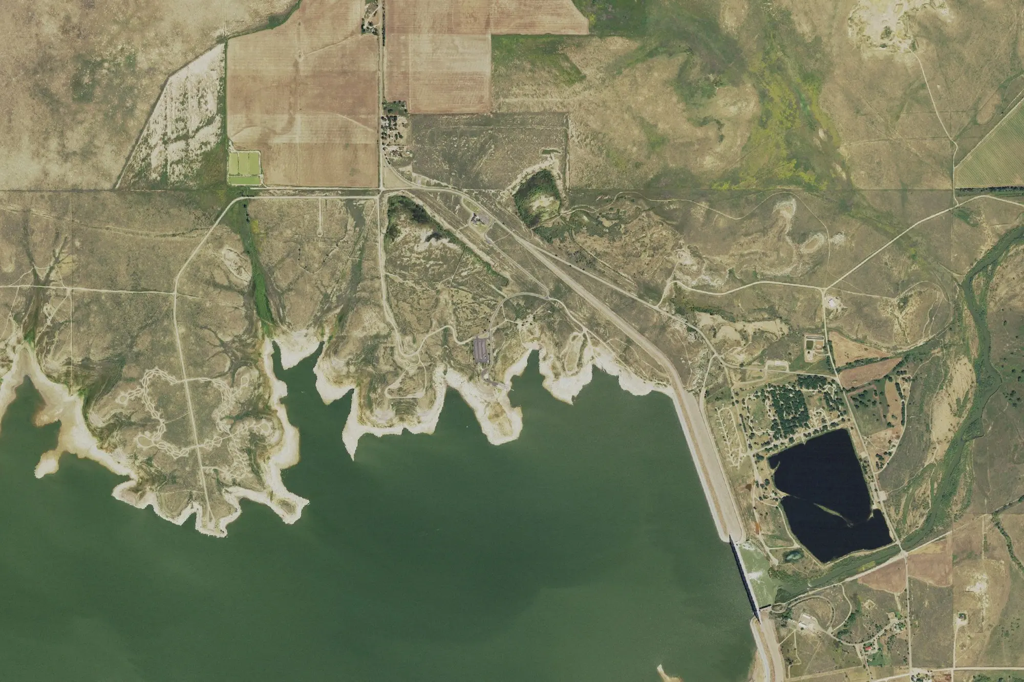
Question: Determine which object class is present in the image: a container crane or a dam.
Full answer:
Looking from above, you can make out a dam.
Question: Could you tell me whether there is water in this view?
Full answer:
Yes, water can be seen from above here.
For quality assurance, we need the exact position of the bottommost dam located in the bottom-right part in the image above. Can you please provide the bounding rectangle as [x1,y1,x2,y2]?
[751,617,786,682]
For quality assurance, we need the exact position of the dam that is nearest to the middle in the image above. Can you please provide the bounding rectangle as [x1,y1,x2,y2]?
[521,235,742,542]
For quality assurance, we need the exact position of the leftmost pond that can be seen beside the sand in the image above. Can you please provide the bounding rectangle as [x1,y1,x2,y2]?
[0,340,760,682]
